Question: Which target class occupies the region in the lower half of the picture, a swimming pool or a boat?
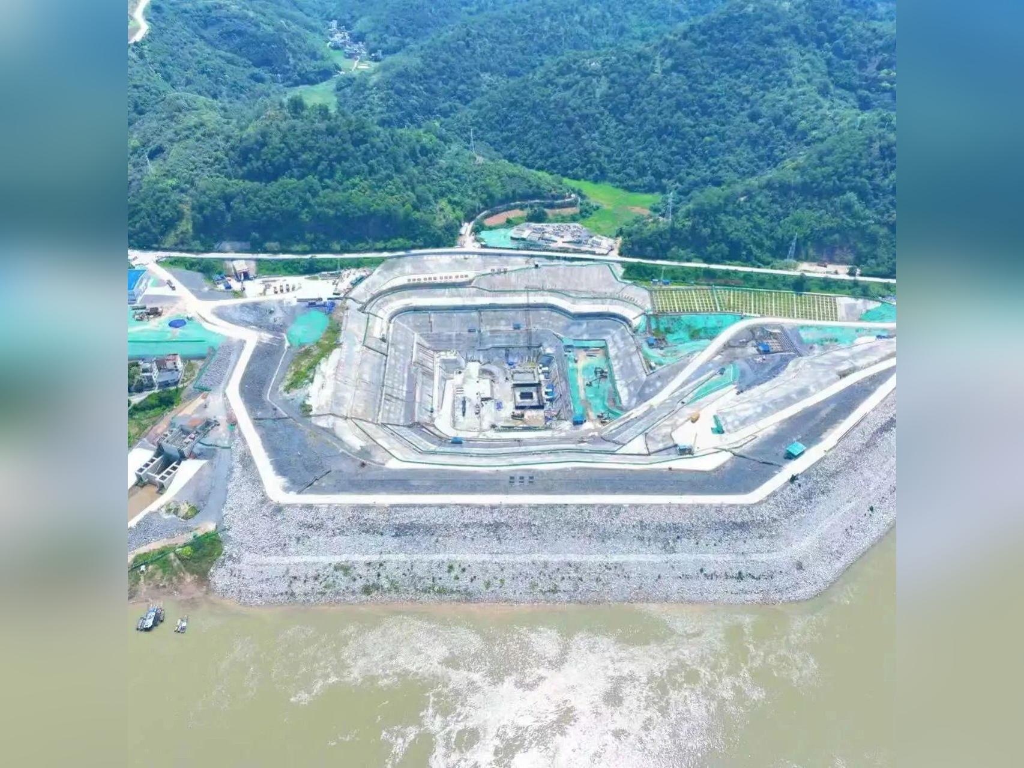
boat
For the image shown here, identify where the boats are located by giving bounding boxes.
[174,616,189,632]
[138,605,166,631]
